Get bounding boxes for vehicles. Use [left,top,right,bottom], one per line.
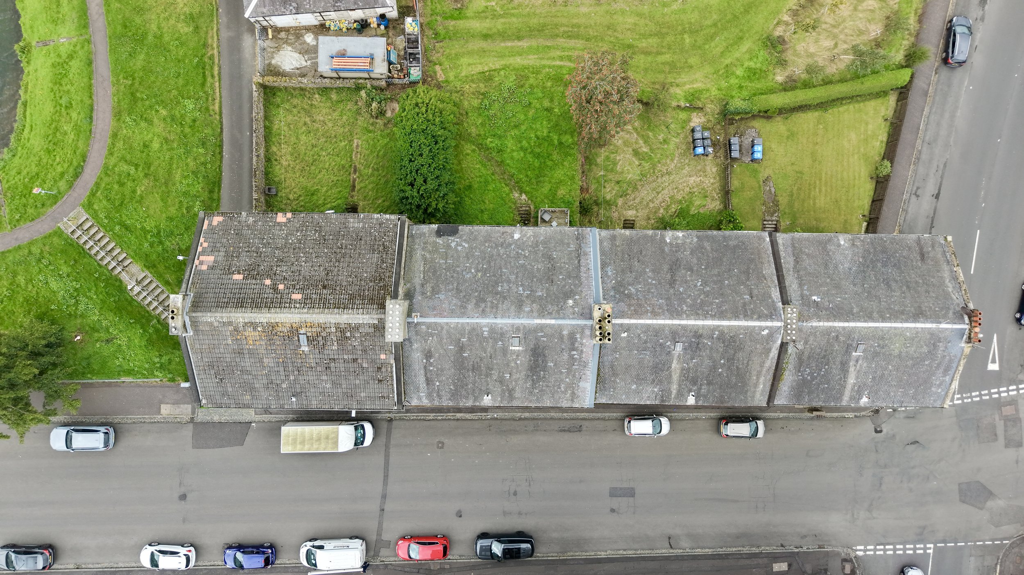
[51,424,118,455]
[396,535,450,567]
[718,416,765,443]
[282,418,374,453]
[224,543,278,575]
[475,532,535,570]
[0,544,59,575]
[943,12,984,68]
[141,543,198,575]
[301,535,367,574]
[624,414,670,441]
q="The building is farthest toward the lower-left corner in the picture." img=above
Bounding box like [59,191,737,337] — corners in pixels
[172,210,413,411]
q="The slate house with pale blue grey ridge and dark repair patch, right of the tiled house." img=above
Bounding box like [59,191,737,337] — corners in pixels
[396,222,611,410]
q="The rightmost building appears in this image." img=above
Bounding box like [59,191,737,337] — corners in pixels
[771,231,986,410]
